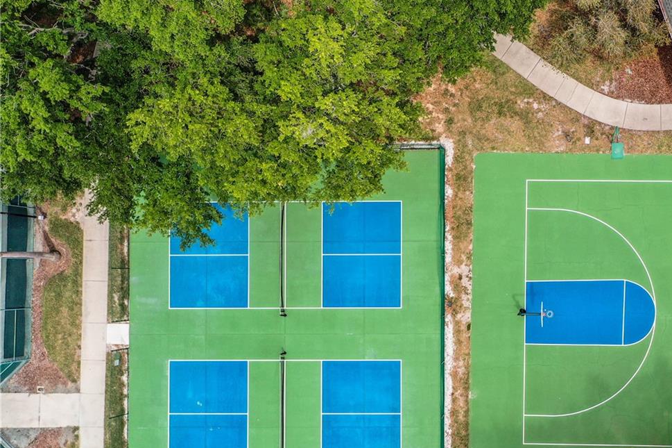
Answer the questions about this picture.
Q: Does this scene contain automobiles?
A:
No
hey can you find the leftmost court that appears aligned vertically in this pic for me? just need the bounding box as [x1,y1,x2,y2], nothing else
[0,128,31,379]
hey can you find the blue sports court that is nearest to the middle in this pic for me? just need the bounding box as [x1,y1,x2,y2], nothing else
[169,201,402,308]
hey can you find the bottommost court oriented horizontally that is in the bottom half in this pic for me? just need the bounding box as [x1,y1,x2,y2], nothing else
[168,360,401,448]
